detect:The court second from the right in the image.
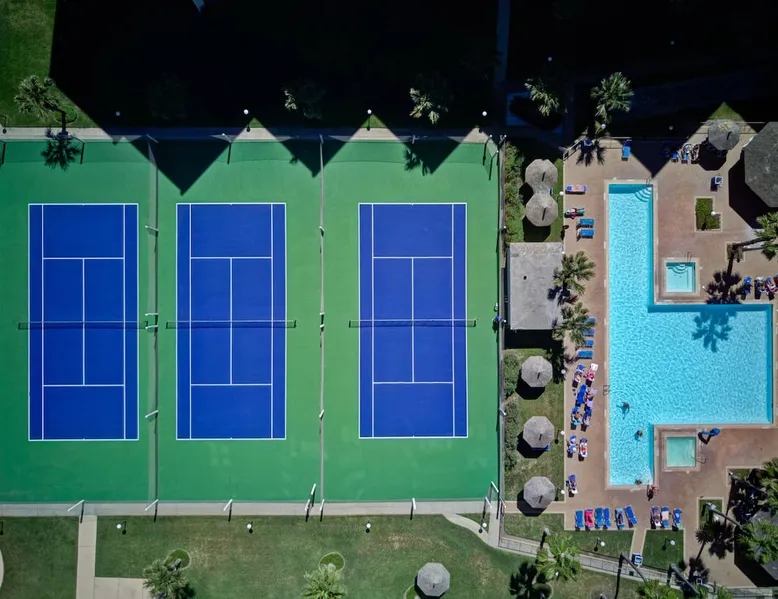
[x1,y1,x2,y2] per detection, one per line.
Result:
[158,141,322,502]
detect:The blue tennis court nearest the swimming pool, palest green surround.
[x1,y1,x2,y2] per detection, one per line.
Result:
[322,141,500,502]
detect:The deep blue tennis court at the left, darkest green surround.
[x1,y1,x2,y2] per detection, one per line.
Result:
[0,141,158,503]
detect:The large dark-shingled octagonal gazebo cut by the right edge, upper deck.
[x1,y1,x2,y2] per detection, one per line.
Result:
[735,124,778,207]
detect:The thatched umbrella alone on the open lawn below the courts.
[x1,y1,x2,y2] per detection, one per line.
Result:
[417,563,450,596]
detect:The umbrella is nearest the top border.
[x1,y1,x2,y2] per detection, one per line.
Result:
[706,117,740,151]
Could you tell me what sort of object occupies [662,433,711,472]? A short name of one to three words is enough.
swimming pool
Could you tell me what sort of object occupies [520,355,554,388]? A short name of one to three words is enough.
umbrella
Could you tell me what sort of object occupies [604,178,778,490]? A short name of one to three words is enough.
swimming pool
